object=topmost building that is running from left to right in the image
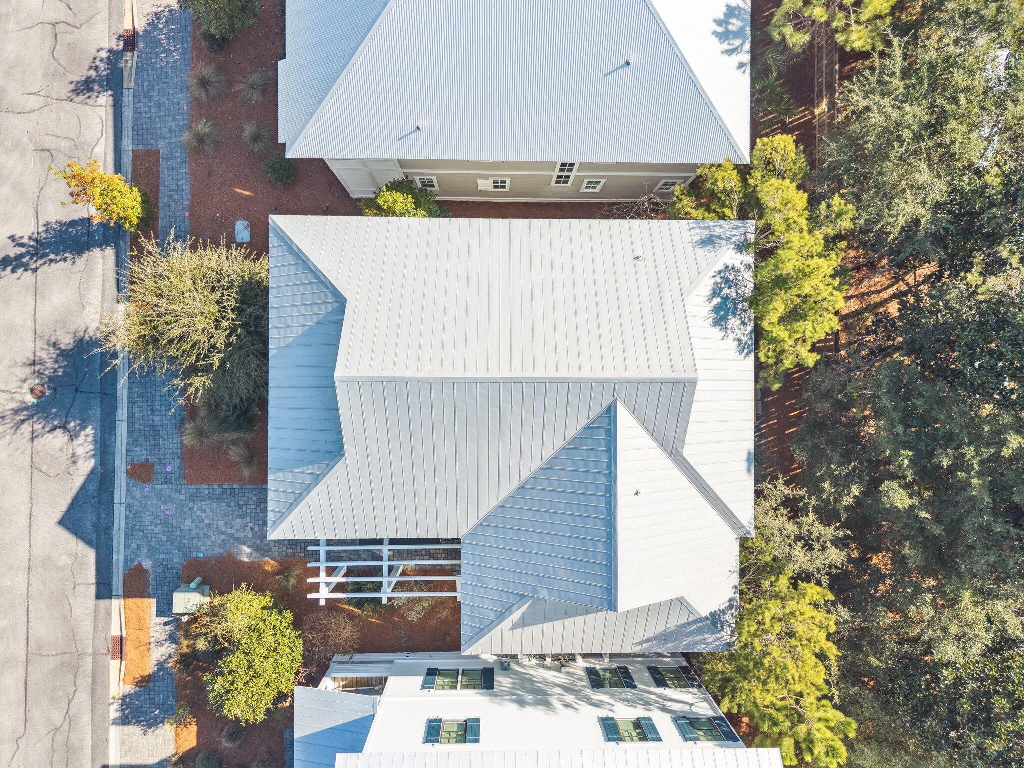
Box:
[278,0,751,203]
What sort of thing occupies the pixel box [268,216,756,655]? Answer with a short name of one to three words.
house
